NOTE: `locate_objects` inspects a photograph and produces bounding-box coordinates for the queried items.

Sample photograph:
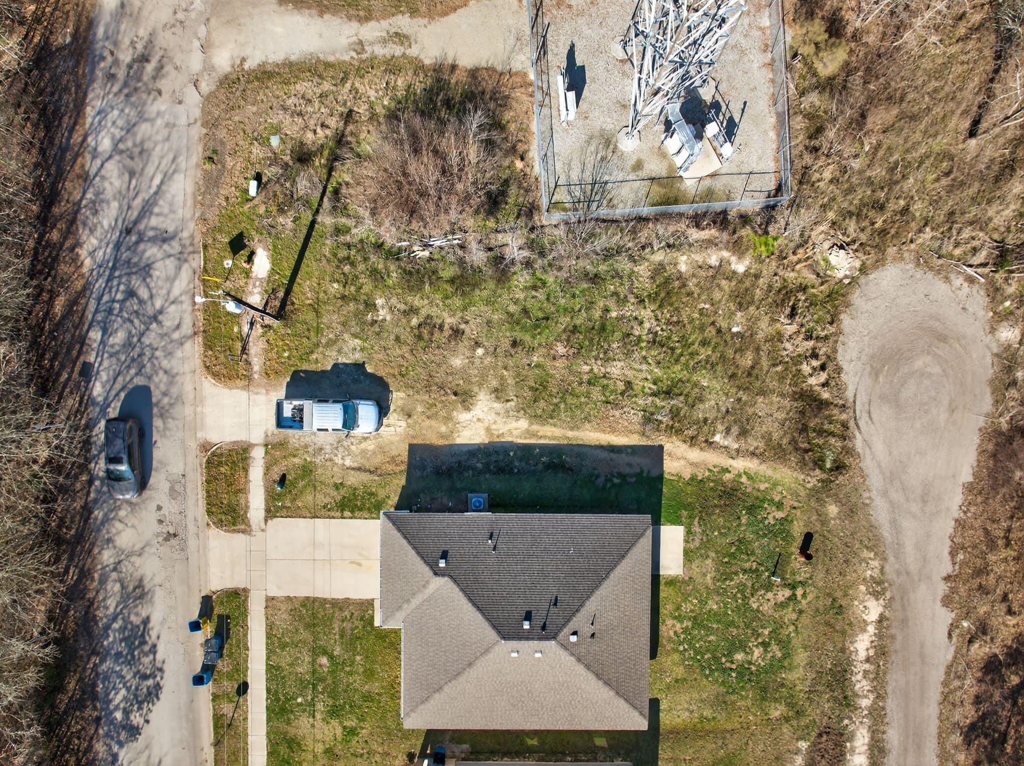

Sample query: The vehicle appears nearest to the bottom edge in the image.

[99,419,147,499]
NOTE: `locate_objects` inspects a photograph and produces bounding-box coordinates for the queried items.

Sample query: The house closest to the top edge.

[378,511,651,731]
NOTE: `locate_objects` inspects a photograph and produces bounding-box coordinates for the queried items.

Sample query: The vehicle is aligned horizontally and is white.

[276,393,386,440]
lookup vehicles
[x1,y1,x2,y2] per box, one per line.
[99,419,147,499]
[276,393,386,440]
